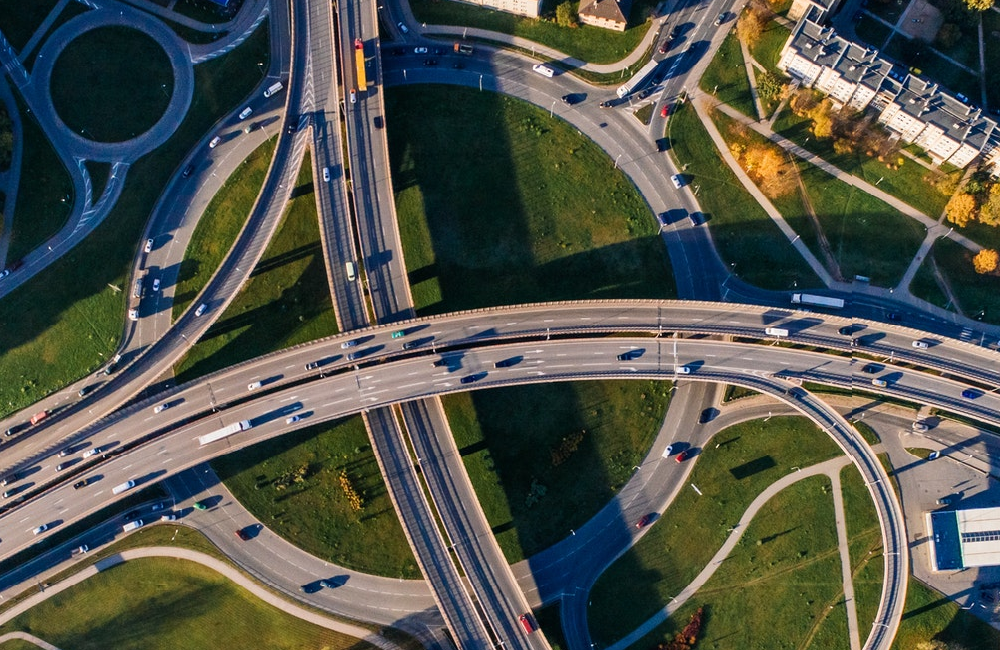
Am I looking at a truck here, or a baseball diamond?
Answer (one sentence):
Of the two, only a truck appears.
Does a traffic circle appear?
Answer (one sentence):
Yes, the frame does contain a traffic circle.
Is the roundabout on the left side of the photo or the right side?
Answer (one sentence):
The roundabout appears in the left half of the scene.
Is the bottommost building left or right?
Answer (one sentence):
The bottommost building sits on the right side.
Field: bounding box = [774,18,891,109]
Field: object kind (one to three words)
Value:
building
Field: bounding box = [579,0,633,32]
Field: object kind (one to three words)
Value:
house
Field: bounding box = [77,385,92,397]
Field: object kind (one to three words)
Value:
vehicle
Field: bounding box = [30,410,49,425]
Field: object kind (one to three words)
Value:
vehicle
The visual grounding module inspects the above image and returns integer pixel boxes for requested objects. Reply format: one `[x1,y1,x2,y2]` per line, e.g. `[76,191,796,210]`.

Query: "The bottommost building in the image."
[923,508,1000,569]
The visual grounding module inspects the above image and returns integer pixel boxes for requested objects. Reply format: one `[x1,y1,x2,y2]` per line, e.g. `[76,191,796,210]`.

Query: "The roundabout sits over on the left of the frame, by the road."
[30,8,193,161]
